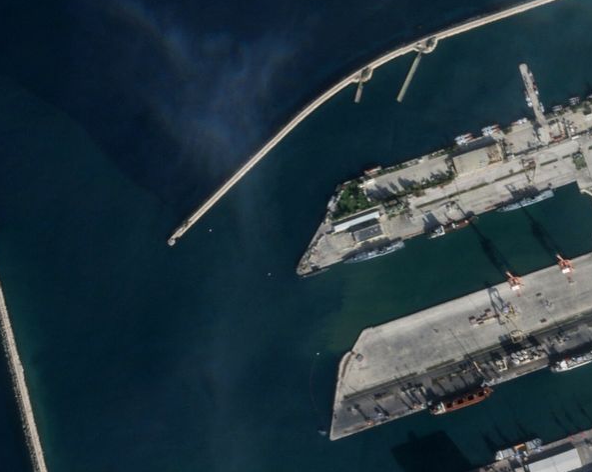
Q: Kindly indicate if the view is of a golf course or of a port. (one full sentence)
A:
The area seen from above is a port.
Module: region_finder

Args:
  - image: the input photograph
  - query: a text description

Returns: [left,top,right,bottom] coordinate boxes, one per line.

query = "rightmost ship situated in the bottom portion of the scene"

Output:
[550,350,592,371]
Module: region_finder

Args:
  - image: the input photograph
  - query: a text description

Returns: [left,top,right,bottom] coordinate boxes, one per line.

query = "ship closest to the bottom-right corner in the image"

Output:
[496,440,542,459]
